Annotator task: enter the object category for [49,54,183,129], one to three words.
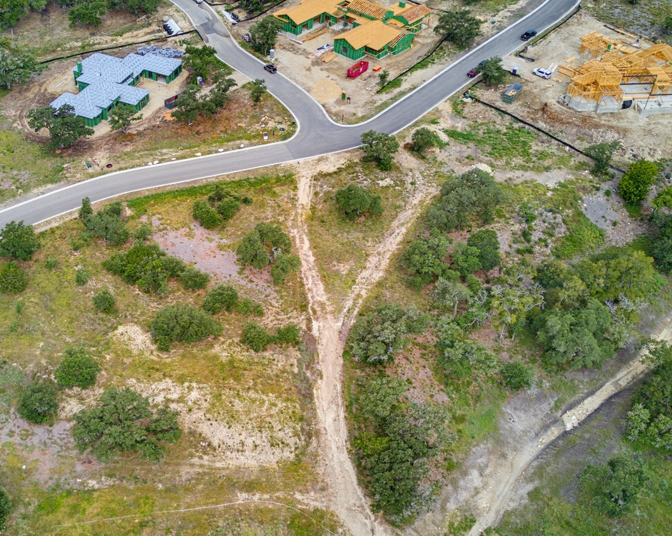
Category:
house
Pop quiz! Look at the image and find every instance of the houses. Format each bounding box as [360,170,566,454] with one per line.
[562,38,672,115]
[49,54,183,129]
[266,0,434,61]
